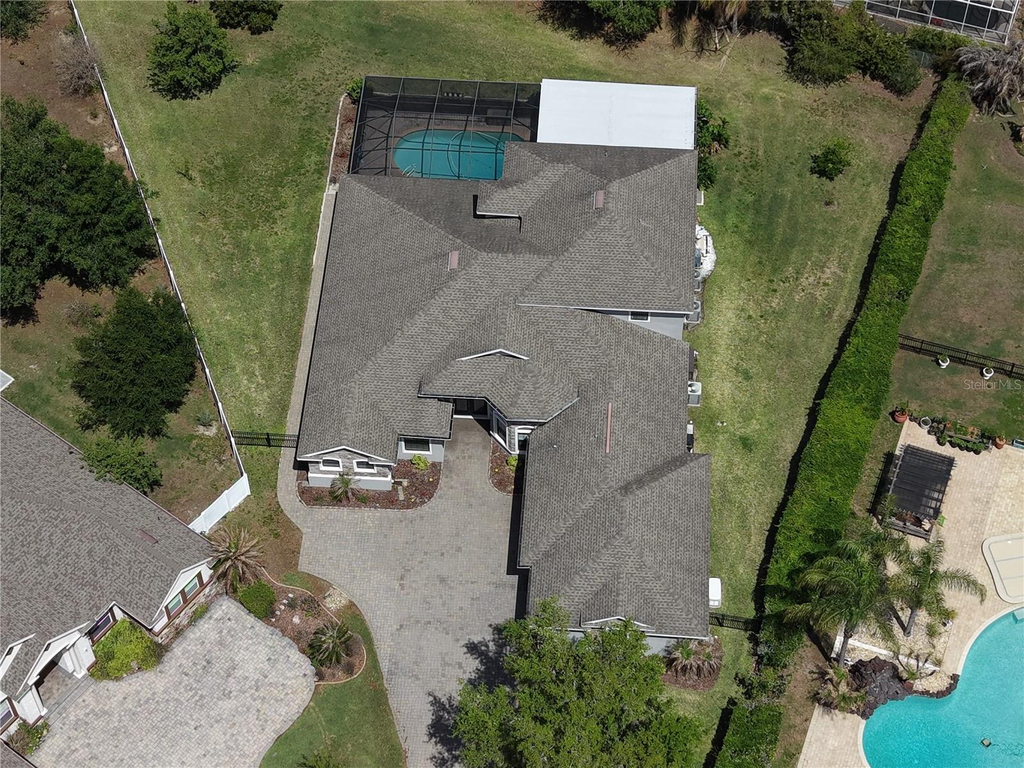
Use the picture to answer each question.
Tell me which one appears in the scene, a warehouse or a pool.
pool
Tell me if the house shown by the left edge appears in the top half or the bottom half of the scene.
bottom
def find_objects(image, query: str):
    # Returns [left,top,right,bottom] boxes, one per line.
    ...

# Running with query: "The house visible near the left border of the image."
[0,395,220,768]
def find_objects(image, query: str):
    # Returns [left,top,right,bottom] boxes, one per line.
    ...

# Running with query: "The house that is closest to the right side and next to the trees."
[293,139,713,654]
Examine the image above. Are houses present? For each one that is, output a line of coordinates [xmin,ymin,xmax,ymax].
[0,395,220,768]
[293,139,713,654]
